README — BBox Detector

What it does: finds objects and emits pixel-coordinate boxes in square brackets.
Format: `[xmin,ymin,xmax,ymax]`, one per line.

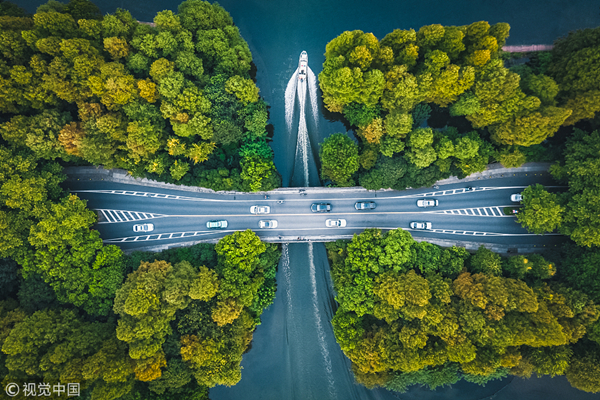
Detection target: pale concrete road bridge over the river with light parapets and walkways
[259,186,349,243]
